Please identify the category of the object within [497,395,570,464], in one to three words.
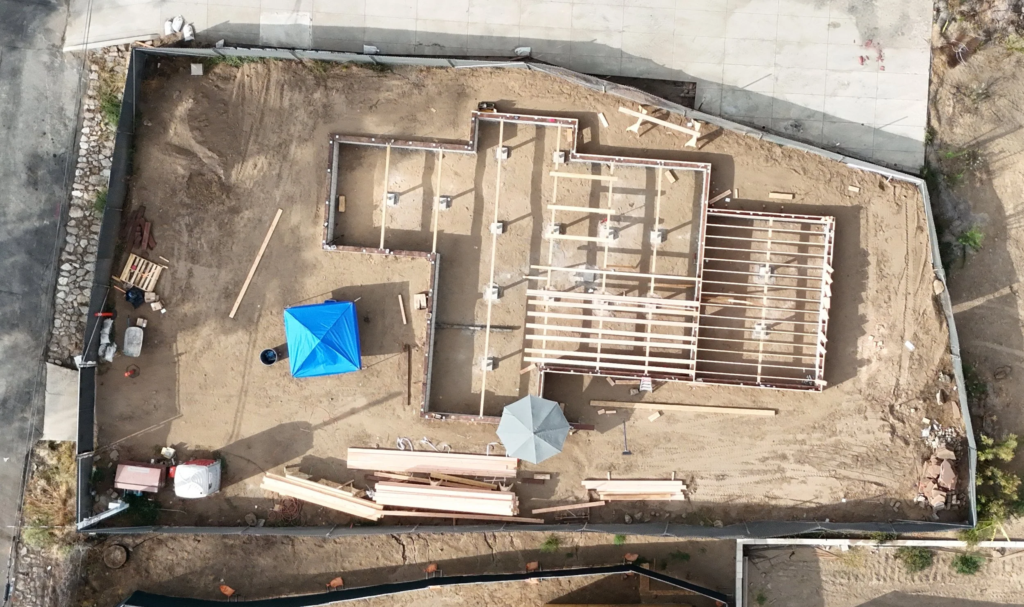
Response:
umbrella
